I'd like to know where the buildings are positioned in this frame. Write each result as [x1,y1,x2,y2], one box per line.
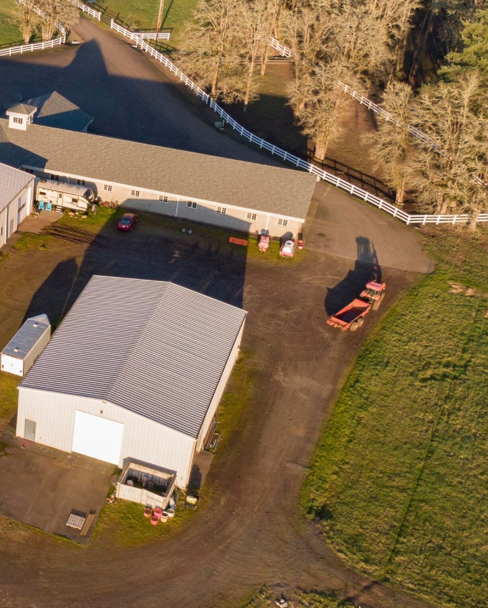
[14,275,249,487]
[0,92,325,240]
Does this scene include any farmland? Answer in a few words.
Yes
